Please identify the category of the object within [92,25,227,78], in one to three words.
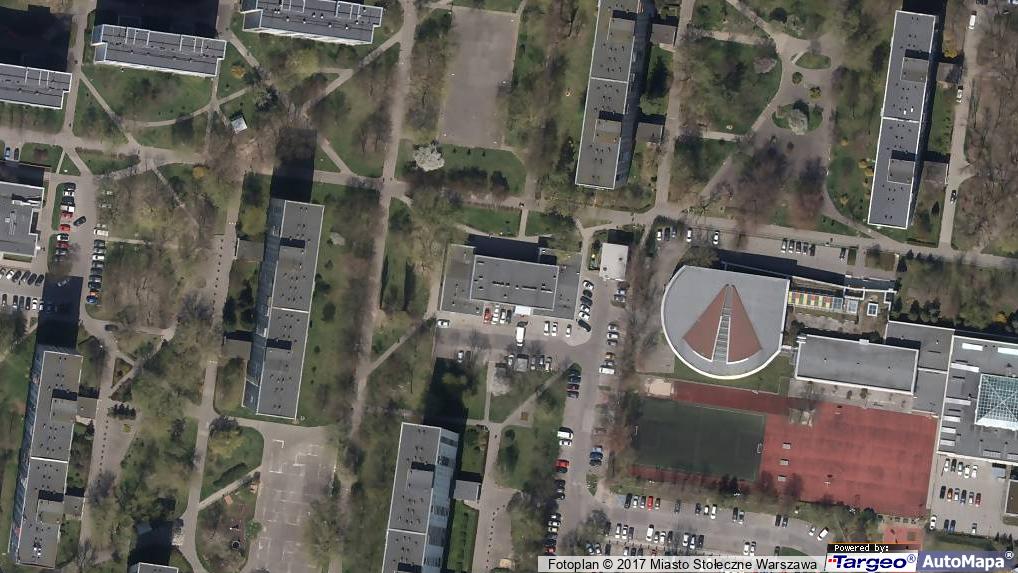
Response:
building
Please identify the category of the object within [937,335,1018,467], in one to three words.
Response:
building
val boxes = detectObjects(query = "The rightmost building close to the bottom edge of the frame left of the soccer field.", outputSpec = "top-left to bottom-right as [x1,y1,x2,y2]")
[382,423,480,573]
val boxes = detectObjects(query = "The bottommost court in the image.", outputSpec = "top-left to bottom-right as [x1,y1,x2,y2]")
[874,525,924,573]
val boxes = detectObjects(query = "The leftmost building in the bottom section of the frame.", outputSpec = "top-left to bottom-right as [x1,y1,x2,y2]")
[7,346,100,568]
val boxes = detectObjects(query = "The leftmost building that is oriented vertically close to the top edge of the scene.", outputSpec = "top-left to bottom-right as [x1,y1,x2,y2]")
[577,0,676,188]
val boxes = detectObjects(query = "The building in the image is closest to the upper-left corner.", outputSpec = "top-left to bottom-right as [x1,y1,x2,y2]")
[0,64,72,108]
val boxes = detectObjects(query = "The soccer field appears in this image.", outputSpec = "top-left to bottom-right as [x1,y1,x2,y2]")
[632,398,764,481]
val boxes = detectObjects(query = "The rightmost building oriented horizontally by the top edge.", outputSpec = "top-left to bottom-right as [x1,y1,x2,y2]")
[241,0,383,45]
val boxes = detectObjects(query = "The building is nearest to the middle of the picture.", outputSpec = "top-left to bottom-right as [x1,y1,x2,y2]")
[441,245,581,319]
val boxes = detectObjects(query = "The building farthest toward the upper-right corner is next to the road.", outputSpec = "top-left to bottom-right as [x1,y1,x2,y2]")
[869,11,961,229]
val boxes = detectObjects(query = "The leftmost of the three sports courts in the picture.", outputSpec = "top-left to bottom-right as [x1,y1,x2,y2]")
[438,5,517,147]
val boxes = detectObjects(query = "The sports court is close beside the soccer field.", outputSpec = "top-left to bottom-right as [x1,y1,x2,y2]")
[757,401,935,516]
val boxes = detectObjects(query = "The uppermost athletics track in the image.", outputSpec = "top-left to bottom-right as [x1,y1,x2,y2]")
[643,380,824,415]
